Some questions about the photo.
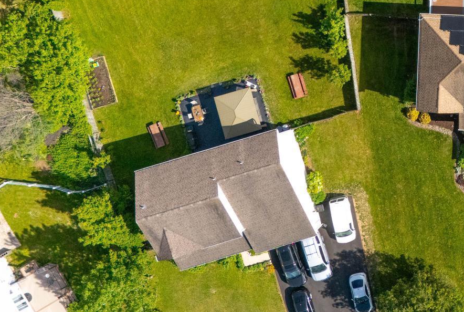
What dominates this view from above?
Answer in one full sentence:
What you mostly see from above here is grass.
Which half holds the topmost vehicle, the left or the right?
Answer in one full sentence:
The topmost vehicle appears in the right half of the scene.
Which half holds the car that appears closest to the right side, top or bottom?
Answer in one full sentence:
The car that appears closest to the right side is in the bottom half of the image.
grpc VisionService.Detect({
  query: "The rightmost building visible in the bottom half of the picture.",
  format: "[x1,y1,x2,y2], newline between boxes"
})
[133,128,319,277]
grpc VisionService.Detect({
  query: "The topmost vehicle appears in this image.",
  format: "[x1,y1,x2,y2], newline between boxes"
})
[329,194,357,245]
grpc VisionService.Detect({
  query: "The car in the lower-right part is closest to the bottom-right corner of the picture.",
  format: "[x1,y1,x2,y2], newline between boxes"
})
[350,271,374,312]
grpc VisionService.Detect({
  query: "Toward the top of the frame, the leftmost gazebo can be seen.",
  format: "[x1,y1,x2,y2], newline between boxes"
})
[214,88,268,140]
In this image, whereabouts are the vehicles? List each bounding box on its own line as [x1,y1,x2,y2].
[301,230,333,282]
[329,194,357,245]
[292,288,316,312]
[276,242,307,288]
[350,271,374,312]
